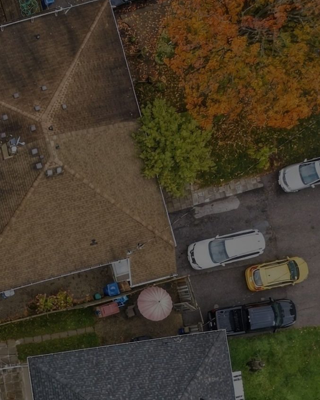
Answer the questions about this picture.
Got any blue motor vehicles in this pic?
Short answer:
No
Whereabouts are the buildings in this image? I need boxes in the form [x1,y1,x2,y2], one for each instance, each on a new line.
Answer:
[0,0,177,294]
[17,327,246,400]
